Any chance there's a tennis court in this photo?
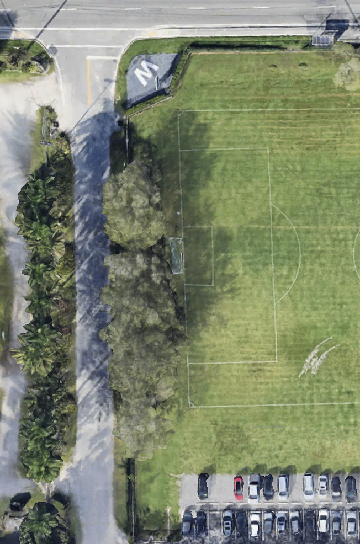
No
